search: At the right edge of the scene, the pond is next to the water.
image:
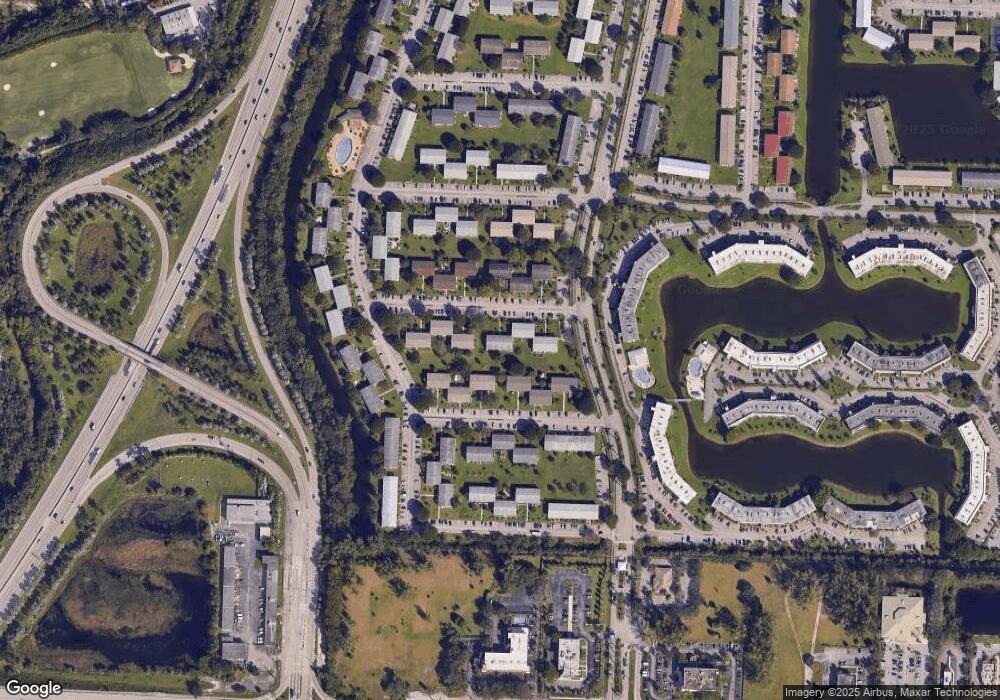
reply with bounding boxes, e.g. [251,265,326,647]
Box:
[956,584,1000,638]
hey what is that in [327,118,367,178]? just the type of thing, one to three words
swimming pool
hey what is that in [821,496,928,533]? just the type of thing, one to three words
building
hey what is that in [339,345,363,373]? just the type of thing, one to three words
house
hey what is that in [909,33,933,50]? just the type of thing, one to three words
house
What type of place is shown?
residential area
